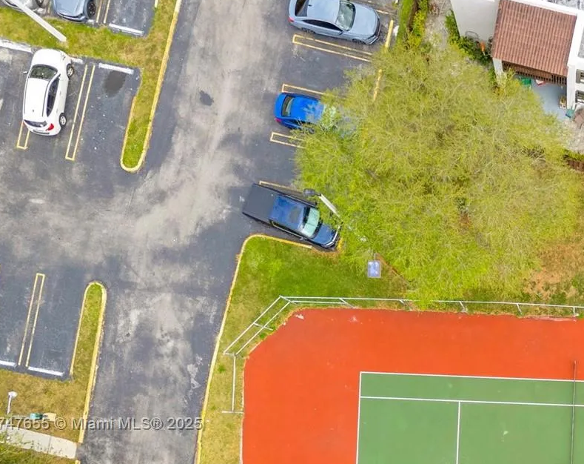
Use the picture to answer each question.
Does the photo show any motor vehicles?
Yes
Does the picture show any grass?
Yes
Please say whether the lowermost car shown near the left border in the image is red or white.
white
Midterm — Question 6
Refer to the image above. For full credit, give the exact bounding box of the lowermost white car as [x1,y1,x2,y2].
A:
[23,52,74,133]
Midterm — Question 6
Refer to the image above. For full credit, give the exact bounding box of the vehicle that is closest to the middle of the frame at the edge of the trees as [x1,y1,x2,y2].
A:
[239,183,345,253]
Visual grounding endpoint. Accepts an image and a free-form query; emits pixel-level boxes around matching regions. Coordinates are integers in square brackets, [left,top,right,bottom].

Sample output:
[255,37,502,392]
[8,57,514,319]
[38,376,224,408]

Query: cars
[289,0,379,47]
[56,0,96,20]
[23,52,74,133]
[5,0,40,8]
[274,93,356,138]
